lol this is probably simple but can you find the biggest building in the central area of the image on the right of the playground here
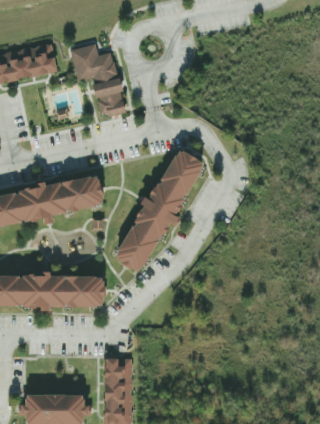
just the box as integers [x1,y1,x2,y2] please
[115,152,206,272]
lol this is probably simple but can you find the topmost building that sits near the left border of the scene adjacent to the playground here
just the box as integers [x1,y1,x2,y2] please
[0,174,107,228]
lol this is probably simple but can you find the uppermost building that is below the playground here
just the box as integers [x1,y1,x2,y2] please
[0,272,106,314]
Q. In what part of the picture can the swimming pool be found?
top left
